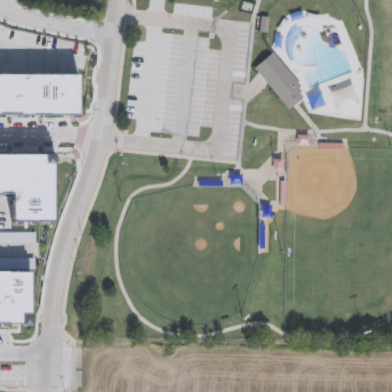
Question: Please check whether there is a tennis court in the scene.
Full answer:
No, the photo shows no tennis court.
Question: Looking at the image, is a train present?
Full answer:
No, I can't see a single train in this photo.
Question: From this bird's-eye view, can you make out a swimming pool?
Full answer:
Yes, there's a swimming pool here.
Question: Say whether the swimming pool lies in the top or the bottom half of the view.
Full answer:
Seen from above, the swimming pool lies in the top half of the view.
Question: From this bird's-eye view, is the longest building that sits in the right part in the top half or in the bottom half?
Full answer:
The longest building that sits in the right part is in the top half of the image.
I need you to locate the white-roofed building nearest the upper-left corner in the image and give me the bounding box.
[0,73,82,117]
